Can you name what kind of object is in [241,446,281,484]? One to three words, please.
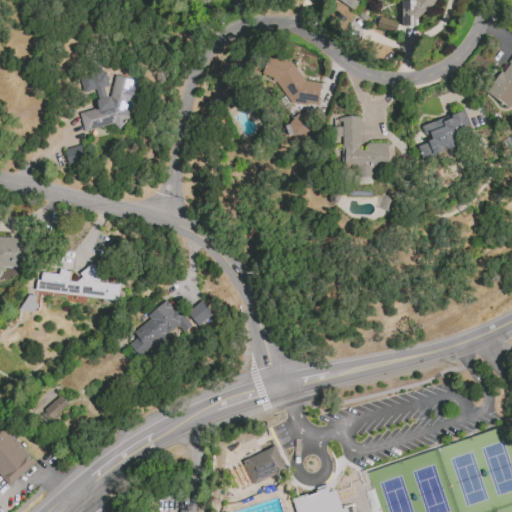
building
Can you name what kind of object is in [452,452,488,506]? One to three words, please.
tennis court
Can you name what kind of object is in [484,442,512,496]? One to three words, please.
tennis court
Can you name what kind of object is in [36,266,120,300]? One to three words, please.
house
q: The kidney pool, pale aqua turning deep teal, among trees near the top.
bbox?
[230,106,261,137]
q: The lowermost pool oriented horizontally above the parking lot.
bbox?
[336,194,392,220]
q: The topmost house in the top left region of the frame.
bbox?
[80,70,134,130]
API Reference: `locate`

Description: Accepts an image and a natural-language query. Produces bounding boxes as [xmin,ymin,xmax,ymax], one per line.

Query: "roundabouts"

[291,424,332,485]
